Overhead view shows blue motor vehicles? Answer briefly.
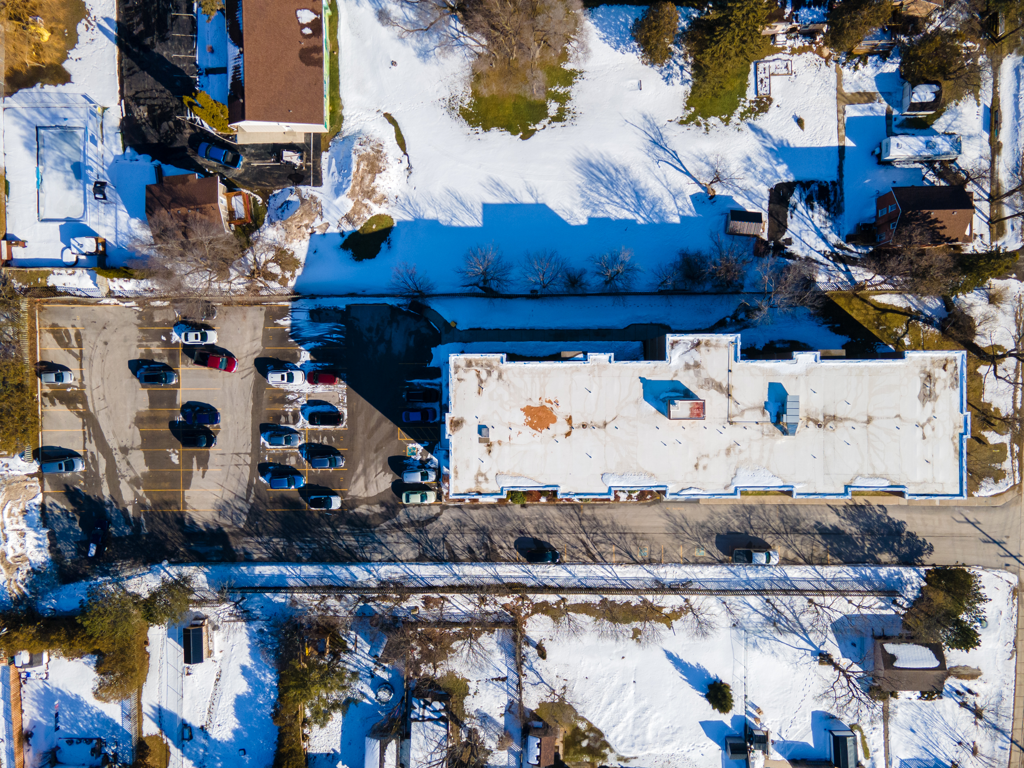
Yes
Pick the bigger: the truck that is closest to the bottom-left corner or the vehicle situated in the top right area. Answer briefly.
the vehicle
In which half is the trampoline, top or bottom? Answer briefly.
bottom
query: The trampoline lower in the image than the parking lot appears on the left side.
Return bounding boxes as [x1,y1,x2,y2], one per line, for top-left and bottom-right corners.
[372,684,393,708]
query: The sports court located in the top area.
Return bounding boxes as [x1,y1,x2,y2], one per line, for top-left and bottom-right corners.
[37,126,86,220]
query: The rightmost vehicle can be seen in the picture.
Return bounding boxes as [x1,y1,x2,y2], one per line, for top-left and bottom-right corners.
[873,136,962,162]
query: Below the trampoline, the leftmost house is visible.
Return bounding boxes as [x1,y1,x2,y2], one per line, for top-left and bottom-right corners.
[365,730,397,768]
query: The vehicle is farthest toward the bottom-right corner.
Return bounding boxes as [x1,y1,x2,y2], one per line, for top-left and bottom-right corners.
[733,548,777,566]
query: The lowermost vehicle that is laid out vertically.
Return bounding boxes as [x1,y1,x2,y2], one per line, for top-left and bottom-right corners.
[87,518,112,559]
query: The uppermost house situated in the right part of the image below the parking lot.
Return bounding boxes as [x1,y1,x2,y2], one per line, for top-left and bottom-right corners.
[874,639,947,691]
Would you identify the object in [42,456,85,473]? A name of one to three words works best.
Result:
vehicle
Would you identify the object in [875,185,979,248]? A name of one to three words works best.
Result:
house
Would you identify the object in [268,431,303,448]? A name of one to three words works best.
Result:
car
